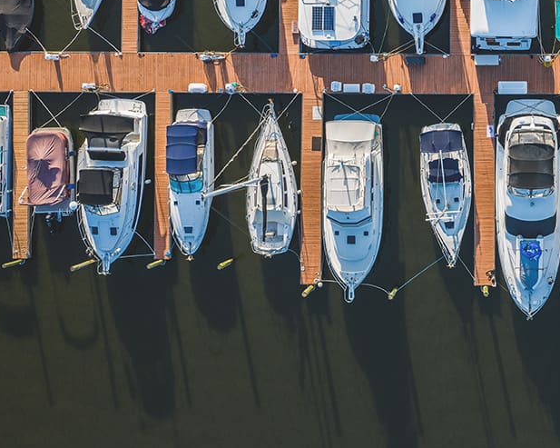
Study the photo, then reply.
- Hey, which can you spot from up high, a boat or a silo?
boat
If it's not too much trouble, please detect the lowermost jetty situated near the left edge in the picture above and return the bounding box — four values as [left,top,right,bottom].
[12,91,32,259]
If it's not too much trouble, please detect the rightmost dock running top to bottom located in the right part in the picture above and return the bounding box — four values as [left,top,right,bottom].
[474,93,496,286]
